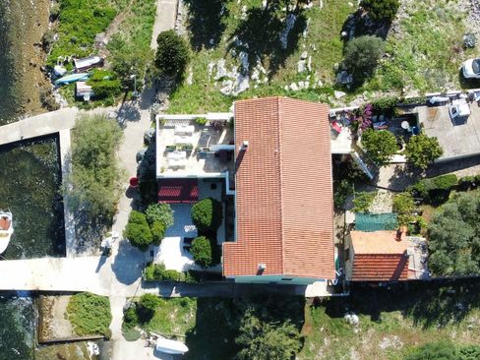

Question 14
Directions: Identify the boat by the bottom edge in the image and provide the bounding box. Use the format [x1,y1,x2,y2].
[155,336,189,353]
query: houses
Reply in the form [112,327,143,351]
[338,230,412,281]
[218,92,335,280]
